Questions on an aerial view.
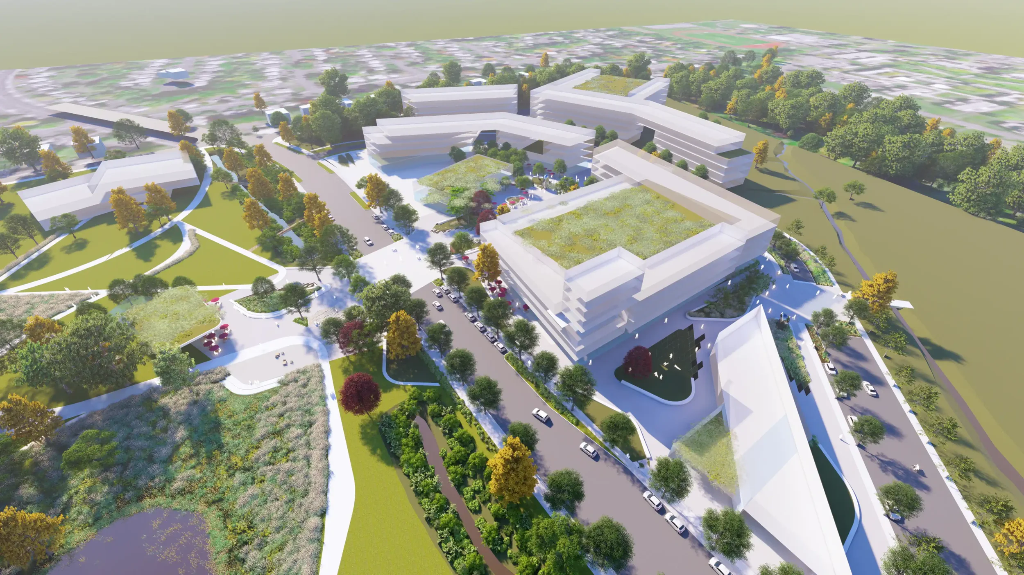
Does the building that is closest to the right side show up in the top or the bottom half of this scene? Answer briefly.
bottom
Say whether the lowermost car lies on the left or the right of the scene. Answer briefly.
right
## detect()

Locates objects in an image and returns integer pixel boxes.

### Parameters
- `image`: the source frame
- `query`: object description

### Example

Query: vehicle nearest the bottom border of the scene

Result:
[707,554,729,575]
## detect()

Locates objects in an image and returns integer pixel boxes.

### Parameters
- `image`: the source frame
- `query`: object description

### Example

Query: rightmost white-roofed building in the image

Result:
[711,315,837,575]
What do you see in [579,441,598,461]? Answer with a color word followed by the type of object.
white car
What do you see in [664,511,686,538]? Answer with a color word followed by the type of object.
white car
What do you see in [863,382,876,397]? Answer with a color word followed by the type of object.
white vehicle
